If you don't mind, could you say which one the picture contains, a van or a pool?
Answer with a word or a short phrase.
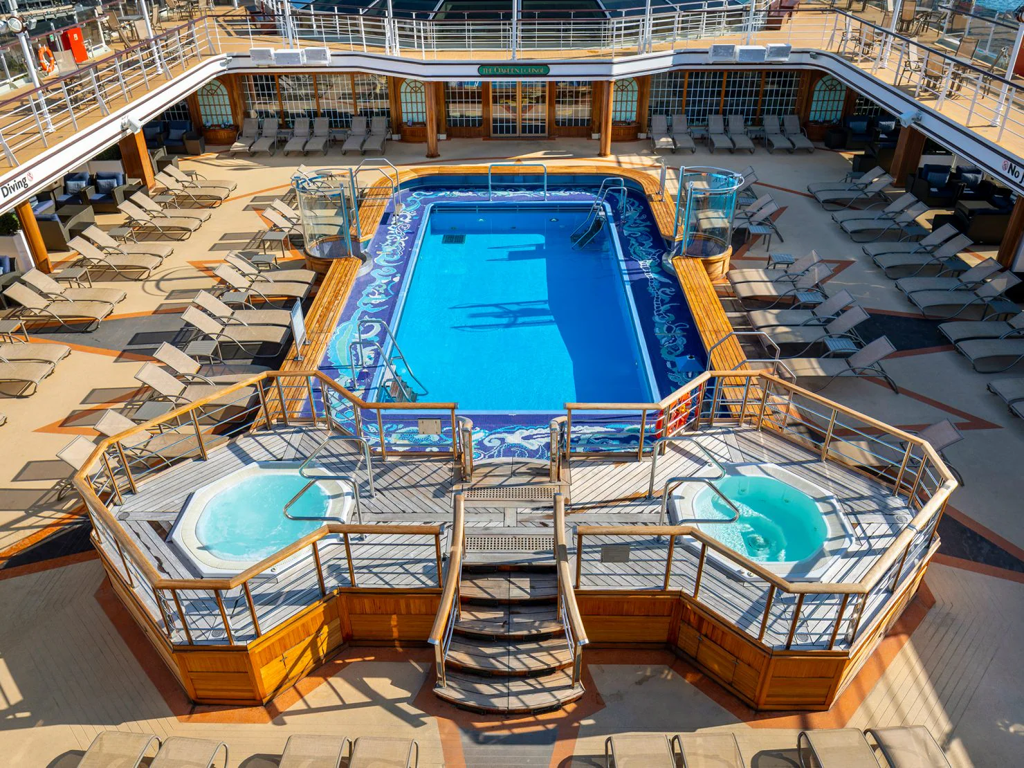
pool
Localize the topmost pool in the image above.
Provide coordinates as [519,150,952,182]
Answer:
[368,200,663,416]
